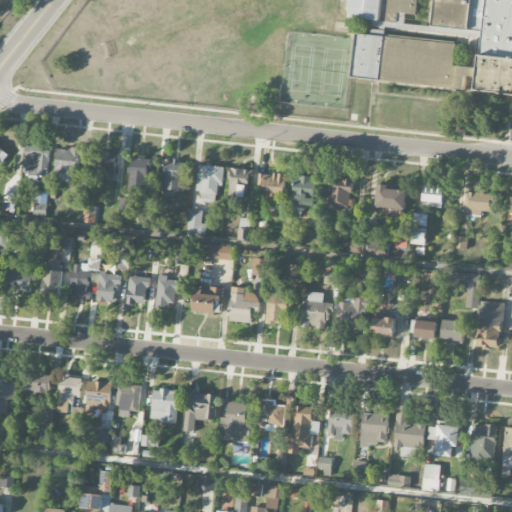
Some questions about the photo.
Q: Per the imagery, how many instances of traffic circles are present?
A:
zero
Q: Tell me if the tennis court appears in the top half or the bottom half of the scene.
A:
top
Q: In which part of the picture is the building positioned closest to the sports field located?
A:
top right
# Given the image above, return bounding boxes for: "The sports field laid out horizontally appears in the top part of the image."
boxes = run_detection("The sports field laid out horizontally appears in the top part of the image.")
[46,0,346,114]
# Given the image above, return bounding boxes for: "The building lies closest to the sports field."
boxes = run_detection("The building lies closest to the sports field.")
[346,0,512,95]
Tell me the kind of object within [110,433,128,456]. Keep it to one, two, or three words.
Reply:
building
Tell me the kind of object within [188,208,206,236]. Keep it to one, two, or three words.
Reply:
building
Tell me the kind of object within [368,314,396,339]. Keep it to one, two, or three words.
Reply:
house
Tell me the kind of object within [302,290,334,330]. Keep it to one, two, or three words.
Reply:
house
